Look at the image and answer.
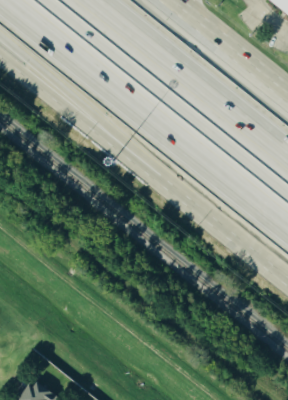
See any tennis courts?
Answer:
No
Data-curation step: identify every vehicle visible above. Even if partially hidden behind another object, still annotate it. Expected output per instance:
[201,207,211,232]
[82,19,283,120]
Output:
[98,73,108,81]
[166,136,176,144]
[224,102,233,110]
[234,122,244,130]
[213,38,222,46]
[40,44,54,57]
[64,44,72,52]
[242,52,250,60]
[172,63,182,71]
[268,38,276,48]
[246,124,254,132]
[124,85,133,93]
[84,30,93,38]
